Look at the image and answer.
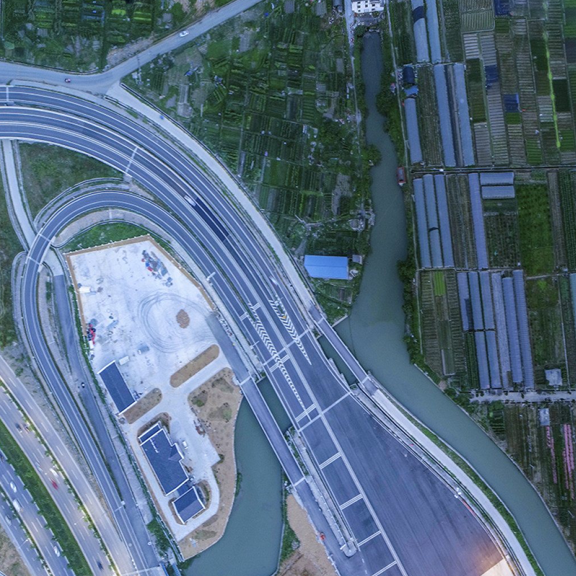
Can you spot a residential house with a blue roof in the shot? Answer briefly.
Yes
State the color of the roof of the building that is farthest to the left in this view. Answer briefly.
blue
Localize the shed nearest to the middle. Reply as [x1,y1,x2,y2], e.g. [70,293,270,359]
[300,254,351,279]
